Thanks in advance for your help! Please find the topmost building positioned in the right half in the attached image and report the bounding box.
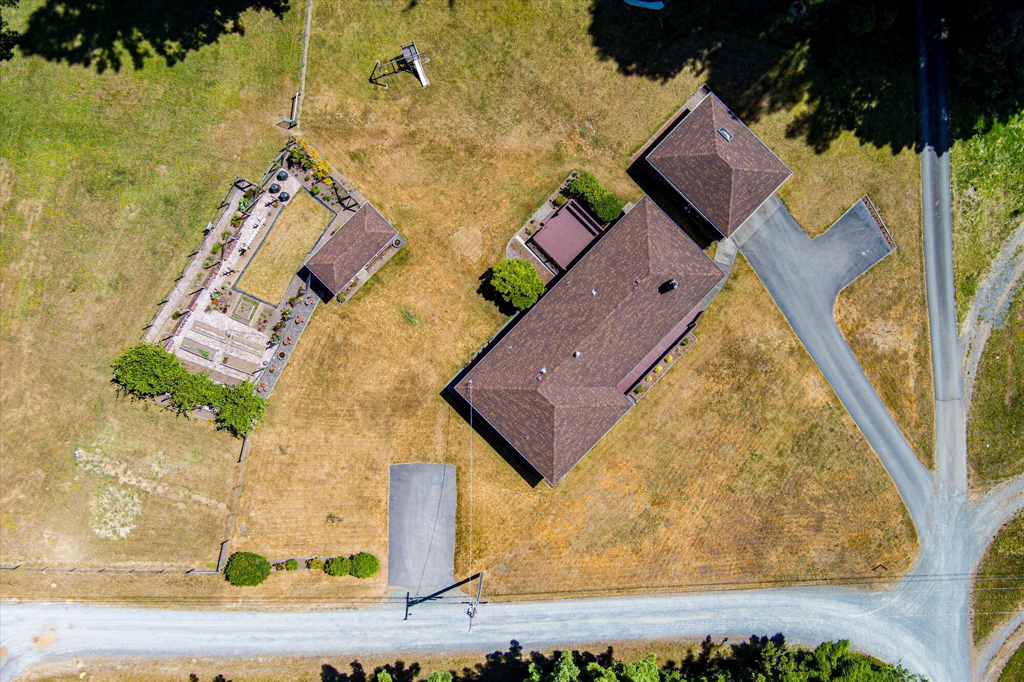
[645,92,792,239]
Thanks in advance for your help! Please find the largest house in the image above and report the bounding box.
[454,195,727,486]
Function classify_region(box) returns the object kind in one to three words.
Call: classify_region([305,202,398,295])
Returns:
shed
